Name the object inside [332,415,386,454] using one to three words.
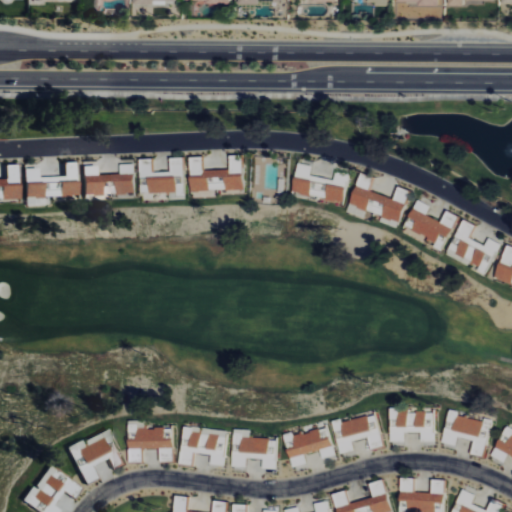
house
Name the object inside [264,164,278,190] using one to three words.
swimming pool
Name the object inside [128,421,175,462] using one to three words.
house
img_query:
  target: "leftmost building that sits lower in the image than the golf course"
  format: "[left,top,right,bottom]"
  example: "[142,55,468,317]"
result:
[24,466,85,512]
